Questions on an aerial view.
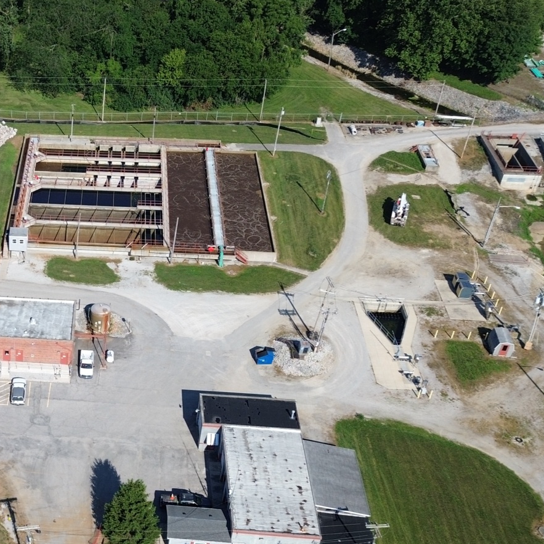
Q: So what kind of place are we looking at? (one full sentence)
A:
What you see here is an industrial area.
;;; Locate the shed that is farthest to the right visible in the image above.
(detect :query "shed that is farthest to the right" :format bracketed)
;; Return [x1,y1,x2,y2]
[489,323,515,357]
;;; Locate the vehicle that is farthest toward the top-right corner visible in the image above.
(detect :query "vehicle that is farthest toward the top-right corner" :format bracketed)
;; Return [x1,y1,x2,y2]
[390,181,412,218]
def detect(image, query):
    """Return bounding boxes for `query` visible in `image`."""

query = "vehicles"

[9,379,28,404]
[155,491,210,512]
[77,348,97,380]
[390,181,412,218]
